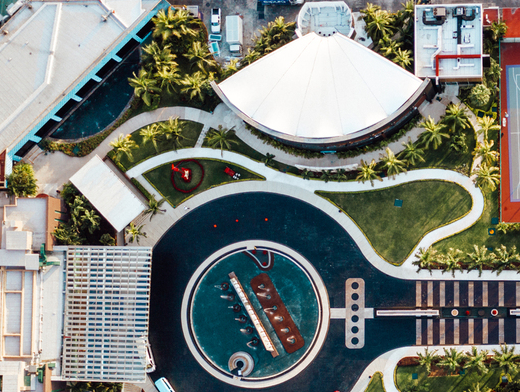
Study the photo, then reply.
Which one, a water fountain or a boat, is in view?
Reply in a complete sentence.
Looking from above, you can make out a water fountain.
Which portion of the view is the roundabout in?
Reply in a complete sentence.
The roundabout sits in the bottom section of the image.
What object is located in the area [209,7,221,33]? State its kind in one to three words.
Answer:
vehicle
